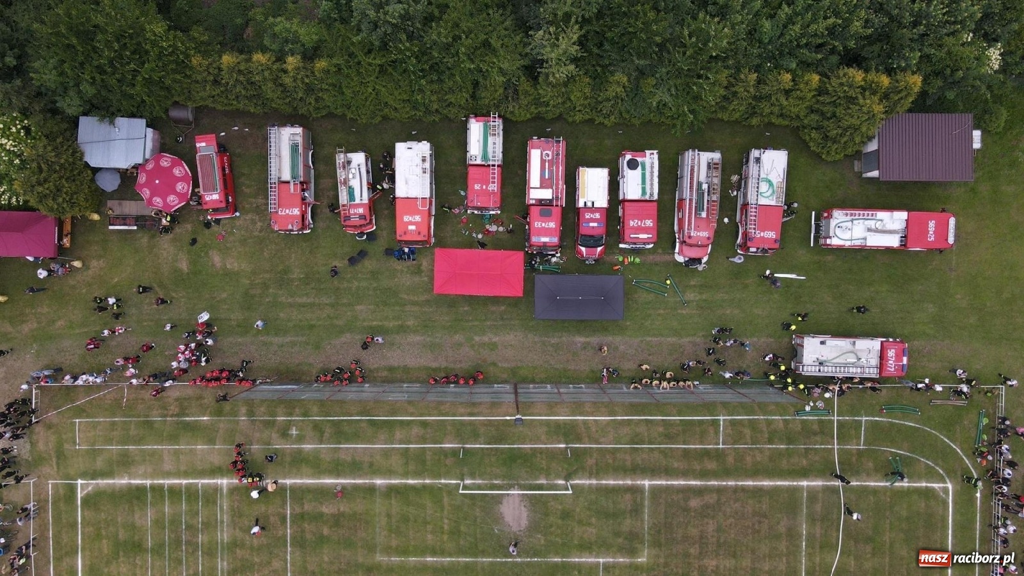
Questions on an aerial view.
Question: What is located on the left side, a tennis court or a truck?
truck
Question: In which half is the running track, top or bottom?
bottom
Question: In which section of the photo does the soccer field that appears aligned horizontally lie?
bottom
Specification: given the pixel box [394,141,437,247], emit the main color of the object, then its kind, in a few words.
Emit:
white truck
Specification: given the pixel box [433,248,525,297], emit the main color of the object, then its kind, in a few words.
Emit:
red gazebo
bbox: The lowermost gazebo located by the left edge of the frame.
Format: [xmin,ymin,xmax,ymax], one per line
[0,211,78,258]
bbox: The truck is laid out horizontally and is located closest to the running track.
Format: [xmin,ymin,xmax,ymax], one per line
[789,334,908,380]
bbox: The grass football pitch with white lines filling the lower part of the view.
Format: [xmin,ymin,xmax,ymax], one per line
[48,480,951,576]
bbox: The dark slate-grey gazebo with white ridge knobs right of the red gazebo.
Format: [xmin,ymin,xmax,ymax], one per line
[534,274,624,320]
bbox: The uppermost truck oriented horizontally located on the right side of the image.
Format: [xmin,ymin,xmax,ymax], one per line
[810,208,955,256]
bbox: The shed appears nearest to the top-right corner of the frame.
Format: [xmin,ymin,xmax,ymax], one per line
[859,113,974,183]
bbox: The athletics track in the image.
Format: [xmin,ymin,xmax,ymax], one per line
[73,411,979,576]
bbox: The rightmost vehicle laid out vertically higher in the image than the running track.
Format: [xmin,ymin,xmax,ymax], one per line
[730,147,787,254]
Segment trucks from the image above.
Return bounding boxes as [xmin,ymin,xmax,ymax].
[195,133,239,221]
[670,149,721,263]
[810,208,955,256]
[464,113,506,214]
[616,151,659,249]
[789,334,908,380]
[523,137,566,254]
[336,147,379,240]
[573,168,609,265]
[268,125,318,234]
[730,147,787,254]
[394,141,437,247]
